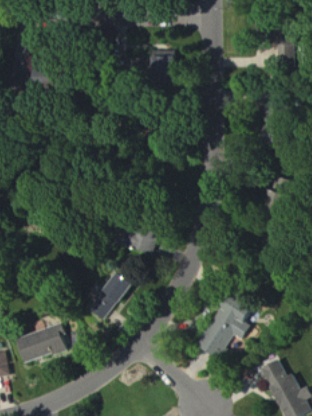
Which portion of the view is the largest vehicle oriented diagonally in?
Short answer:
bottom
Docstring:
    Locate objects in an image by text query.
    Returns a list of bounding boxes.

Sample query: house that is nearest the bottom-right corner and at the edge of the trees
[260,358,312,416]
